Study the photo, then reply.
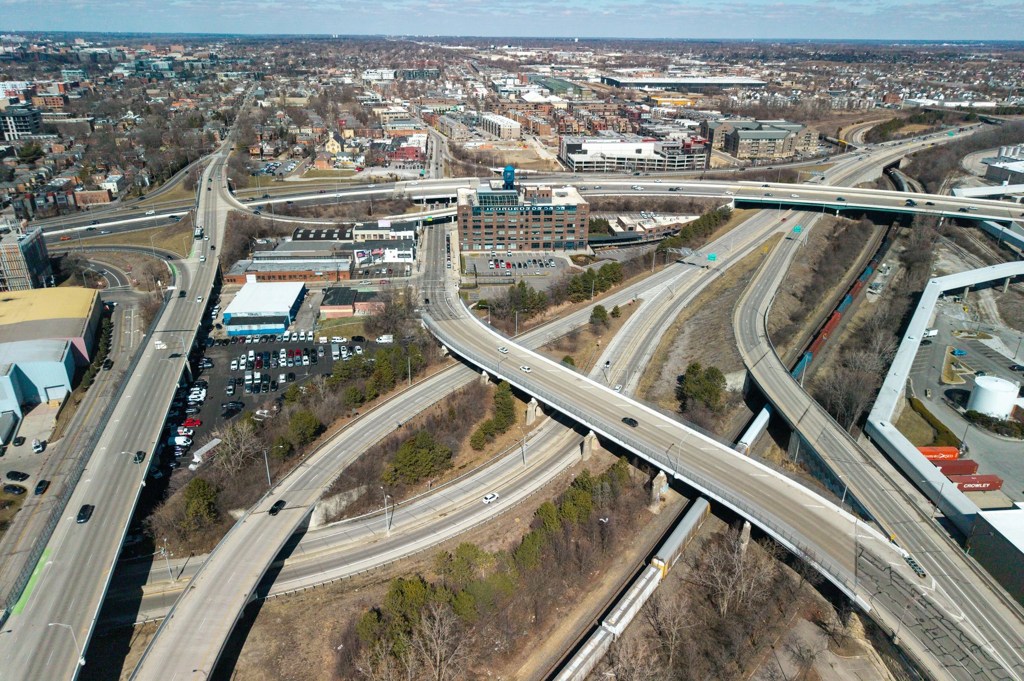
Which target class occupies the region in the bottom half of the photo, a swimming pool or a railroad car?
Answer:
railroad car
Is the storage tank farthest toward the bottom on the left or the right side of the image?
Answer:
right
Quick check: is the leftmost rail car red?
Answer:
No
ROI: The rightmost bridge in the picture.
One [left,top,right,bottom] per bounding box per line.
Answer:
[419,289,1021,681]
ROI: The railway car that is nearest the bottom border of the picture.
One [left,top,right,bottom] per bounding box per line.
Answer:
[553,620,616,681]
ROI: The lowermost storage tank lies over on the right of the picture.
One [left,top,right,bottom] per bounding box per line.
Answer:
[967,371,1024,423]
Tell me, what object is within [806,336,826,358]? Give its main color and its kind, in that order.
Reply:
red rail car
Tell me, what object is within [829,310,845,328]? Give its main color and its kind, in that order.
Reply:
red rail car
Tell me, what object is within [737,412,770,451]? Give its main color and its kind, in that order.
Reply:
white rail car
